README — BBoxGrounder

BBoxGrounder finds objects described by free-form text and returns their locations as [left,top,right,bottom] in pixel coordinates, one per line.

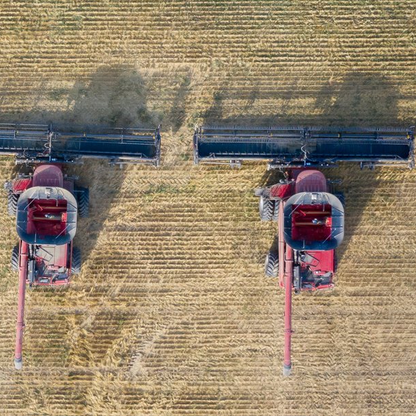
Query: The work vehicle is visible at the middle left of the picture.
[0,118,162,368]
